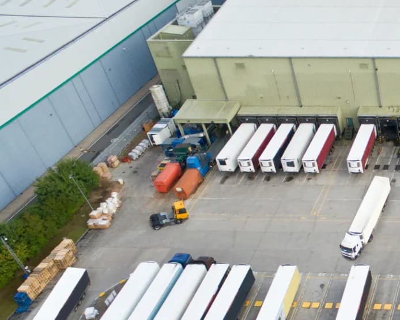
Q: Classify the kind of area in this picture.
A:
industrial area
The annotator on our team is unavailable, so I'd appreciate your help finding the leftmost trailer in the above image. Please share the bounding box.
[34,268,94,320]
